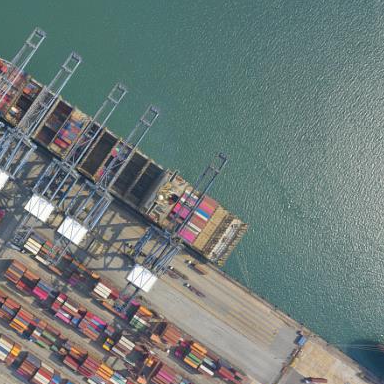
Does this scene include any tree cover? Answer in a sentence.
No, the scene doesn't show any tree cover.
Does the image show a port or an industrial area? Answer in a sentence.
This image shows a port.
